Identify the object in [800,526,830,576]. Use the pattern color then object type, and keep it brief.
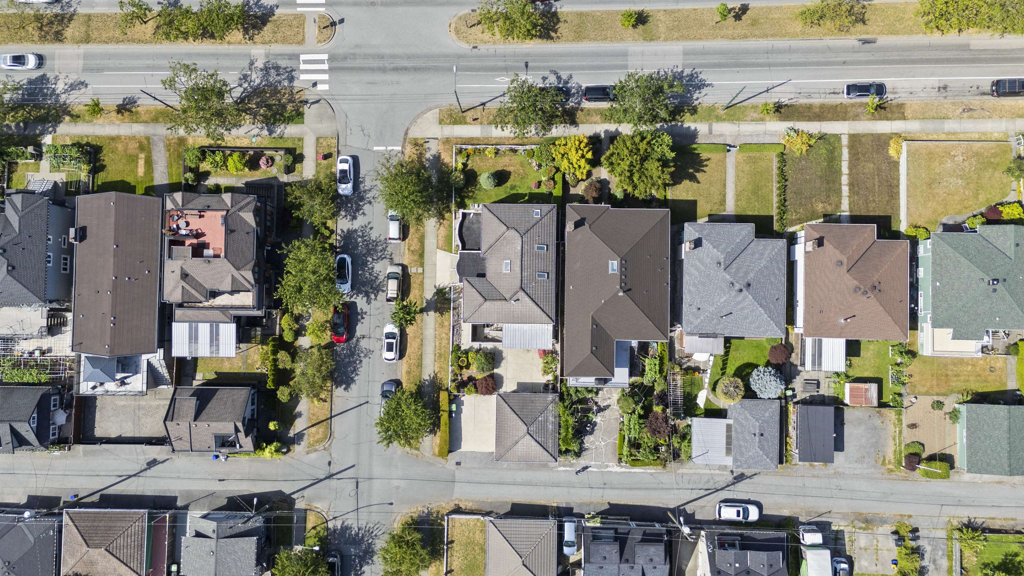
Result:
white truck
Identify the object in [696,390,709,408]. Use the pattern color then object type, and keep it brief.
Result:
white umbrella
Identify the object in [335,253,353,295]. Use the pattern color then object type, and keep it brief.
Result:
black car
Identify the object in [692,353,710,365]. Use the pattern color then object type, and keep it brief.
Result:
white umbrella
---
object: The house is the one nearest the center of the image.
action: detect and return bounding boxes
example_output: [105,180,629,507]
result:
[456,203,557,349]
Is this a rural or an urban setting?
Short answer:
urban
